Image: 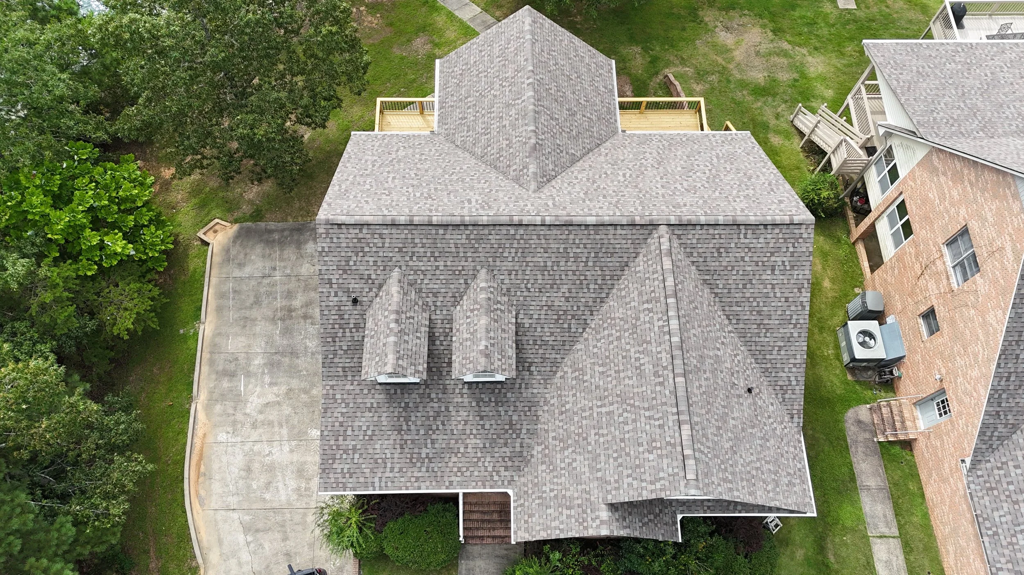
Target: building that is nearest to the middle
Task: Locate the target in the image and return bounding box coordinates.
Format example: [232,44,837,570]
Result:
[314,5,820,546]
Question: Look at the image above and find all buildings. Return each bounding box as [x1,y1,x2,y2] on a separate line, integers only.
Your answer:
[314,5,820,546]
[843,39,1024,575]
